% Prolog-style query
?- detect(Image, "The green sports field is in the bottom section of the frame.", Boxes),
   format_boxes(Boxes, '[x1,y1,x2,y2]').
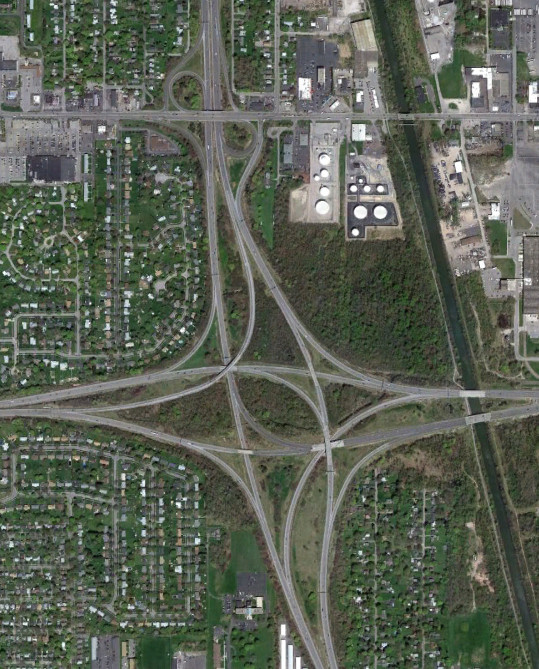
[142,638,170,669]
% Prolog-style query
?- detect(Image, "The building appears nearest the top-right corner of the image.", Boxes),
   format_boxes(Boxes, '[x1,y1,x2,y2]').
[491,8,508,26]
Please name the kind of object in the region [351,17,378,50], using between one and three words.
building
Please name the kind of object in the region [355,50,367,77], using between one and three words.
building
